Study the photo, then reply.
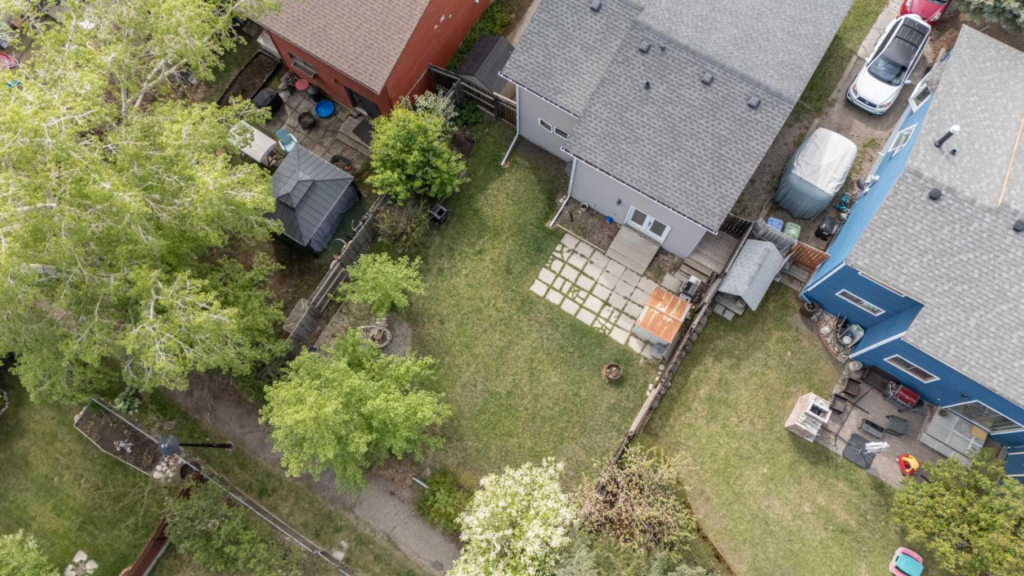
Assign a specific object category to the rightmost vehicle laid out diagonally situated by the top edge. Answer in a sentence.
I'd say the rightmost vehicle laid out diagonally situated by the top edge is an automobile.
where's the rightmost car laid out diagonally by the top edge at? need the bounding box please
[846,12,932,118]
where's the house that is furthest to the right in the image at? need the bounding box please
[801,24,1024,451]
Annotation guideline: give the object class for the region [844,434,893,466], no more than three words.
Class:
umbrella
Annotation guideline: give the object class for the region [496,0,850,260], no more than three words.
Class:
house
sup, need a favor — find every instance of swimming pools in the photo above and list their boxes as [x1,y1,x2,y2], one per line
[315,100,334,119]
